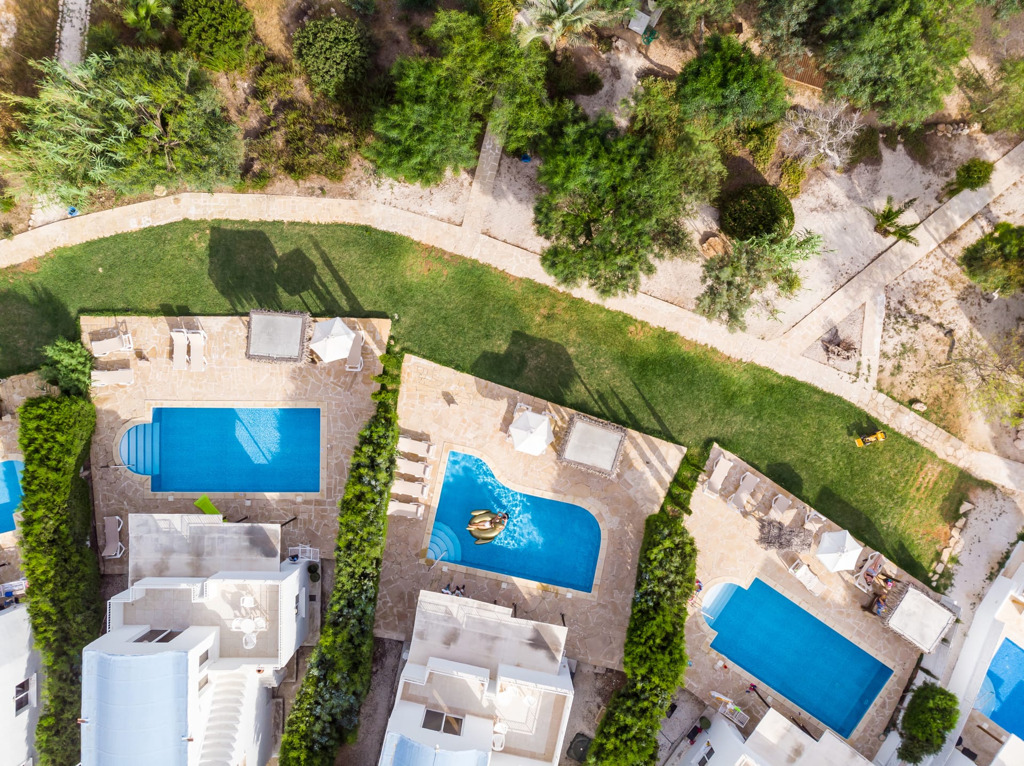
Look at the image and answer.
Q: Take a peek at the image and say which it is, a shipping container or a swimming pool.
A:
swimming pool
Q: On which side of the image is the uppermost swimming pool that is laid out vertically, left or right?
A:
left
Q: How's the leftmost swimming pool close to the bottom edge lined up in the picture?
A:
diagonally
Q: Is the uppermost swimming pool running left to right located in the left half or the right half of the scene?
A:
left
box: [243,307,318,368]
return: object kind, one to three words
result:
gazebo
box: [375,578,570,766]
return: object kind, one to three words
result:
house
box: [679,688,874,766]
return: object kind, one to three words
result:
house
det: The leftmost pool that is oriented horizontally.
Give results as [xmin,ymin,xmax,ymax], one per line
[105,401,332,501]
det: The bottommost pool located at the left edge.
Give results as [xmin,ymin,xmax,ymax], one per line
[0,453,31,539]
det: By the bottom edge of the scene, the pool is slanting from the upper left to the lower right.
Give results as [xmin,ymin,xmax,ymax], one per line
[695,568,903,749]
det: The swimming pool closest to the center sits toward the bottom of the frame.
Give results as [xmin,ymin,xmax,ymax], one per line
[420,443,609,601]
